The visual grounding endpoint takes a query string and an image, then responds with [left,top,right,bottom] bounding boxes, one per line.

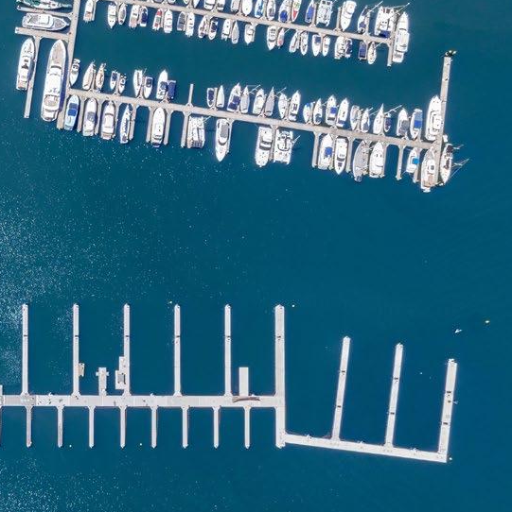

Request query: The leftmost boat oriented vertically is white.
[15,37,34,92]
